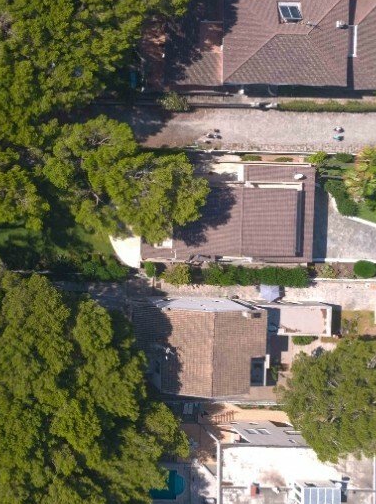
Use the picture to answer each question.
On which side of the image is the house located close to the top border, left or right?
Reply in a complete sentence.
You can find the house located close to the top border on the right side of the picture.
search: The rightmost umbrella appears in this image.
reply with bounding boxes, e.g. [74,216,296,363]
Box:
[258,285,279,301]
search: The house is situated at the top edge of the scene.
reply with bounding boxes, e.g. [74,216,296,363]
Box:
[166,0,376,90]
